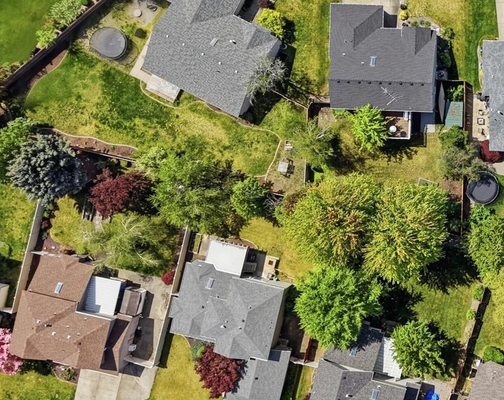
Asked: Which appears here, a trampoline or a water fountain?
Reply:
trampoline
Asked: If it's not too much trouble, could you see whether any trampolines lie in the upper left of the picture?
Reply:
Yes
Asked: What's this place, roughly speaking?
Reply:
residential area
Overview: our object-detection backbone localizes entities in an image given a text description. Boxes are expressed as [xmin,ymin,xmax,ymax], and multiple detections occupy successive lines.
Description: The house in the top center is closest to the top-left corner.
[138,0,280,115]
